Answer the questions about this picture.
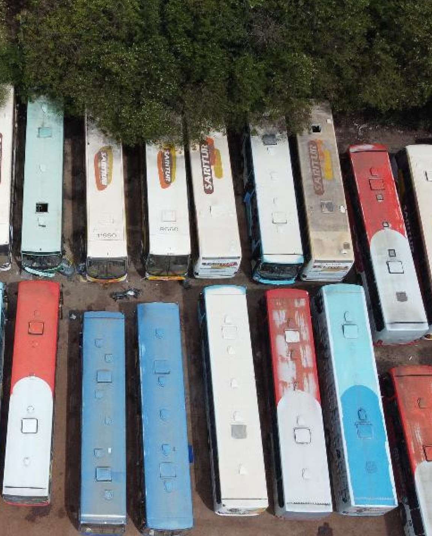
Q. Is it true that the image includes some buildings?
No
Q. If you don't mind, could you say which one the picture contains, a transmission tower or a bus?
bus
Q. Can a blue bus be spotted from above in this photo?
Yes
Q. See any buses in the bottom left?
Yes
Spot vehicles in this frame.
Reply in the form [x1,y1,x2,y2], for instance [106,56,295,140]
[3,282,64,507]
[111,283,141,299]
[391,147,432,341]
[0,82,16,267]
[378,367,432,536]
[140,90,191,277]
[19,88,66,277]
[83,92,130,280]
[197,287,267,518]
[132,304,195,536]
[288,94,353,282]
[185,115,241,278]
[75,314,130,536]
[339,147,426,347]
[256,291,331,521]
[310,287,399,517]
[237,95,303,285]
